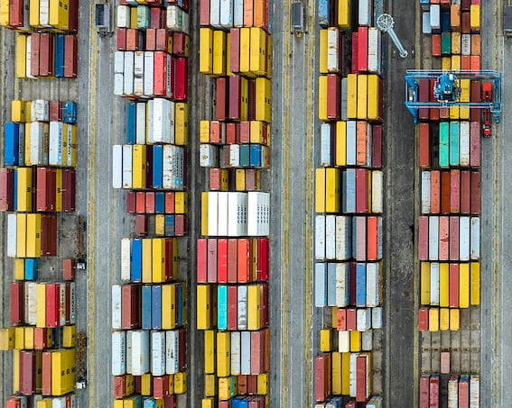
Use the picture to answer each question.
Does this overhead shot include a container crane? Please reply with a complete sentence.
Yes, this view includes a container crane.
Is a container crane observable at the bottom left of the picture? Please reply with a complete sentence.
No, looking at the bottom left of the picture, there is no container crane.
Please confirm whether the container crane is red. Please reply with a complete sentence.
No, the container crane is blue.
